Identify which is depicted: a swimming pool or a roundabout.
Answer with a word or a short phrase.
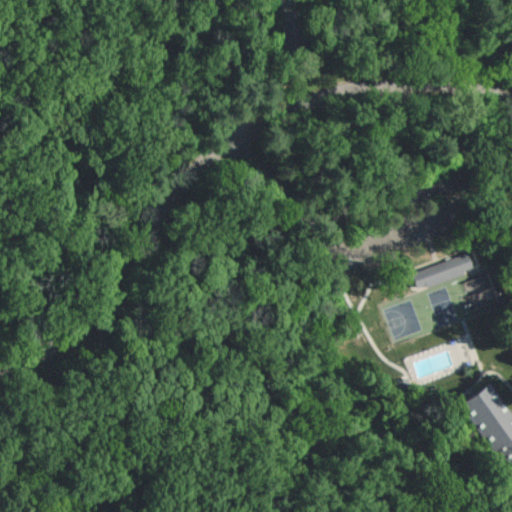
swimming pool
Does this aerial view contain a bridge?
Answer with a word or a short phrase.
No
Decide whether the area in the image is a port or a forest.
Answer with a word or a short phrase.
forest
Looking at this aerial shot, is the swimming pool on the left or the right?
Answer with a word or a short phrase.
right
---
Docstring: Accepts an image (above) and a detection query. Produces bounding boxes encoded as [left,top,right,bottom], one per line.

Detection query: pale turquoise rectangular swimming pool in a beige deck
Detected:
[404,343,476,384]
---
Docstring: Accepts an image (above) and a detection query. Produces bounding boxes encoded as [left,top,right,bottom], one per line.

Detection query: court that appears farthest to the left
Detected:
[384,300,422,340]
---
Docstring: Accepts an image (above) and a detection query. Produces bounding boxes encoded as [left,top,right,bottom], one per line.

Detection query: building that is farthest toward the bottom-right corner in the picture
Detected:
[468,387,512,463]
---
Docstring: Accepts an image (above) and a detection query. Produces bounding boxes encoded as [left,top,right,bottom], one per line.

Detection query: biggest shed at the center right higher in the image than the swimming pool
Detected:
[419,254,475,288]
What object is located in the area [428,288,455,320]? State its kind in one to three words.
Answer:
sports court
